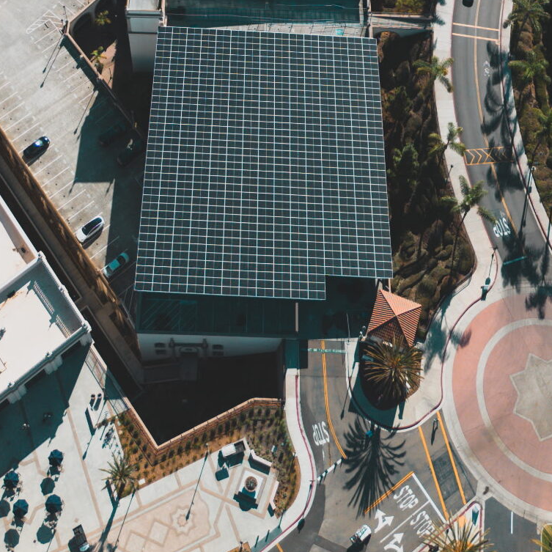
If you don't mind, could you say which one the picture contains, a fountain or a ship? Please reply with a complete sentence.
The one in the frame is a fountain.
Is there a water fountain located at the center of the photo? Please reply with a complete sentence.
No, looking at the center of the photo, there is no water fountain.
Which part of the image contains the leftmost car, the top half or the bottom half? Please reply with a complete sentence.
The top half of the photo is where the leftmost car is.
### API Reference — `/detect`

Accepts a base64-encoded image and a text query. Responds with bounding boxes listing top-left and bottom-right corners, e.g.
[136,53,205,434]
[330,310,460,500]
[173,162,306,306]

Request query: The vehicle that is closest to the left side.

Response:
[22,136,49,158]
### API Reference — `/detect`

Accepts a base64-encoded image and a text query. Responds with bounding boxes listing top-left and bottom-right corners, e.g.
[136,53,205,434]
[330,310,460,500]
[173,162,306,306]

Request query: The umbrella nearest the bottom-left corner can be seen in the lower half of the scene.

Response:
[12,500,29,518]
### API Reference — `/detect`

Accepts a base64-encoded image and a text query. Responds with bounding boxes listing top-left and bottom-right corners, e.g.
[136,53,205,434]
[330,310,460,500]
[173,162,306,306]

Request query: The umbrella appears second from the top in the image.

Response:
[2,471,20,489]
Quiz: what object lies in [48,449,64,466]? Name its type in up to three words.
umbrella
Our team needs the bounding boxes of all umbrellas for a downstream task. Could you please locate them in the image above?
[45,494,63,514]
[48,449,64,466]
[2,471,20,489]
[12,500,29,518]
